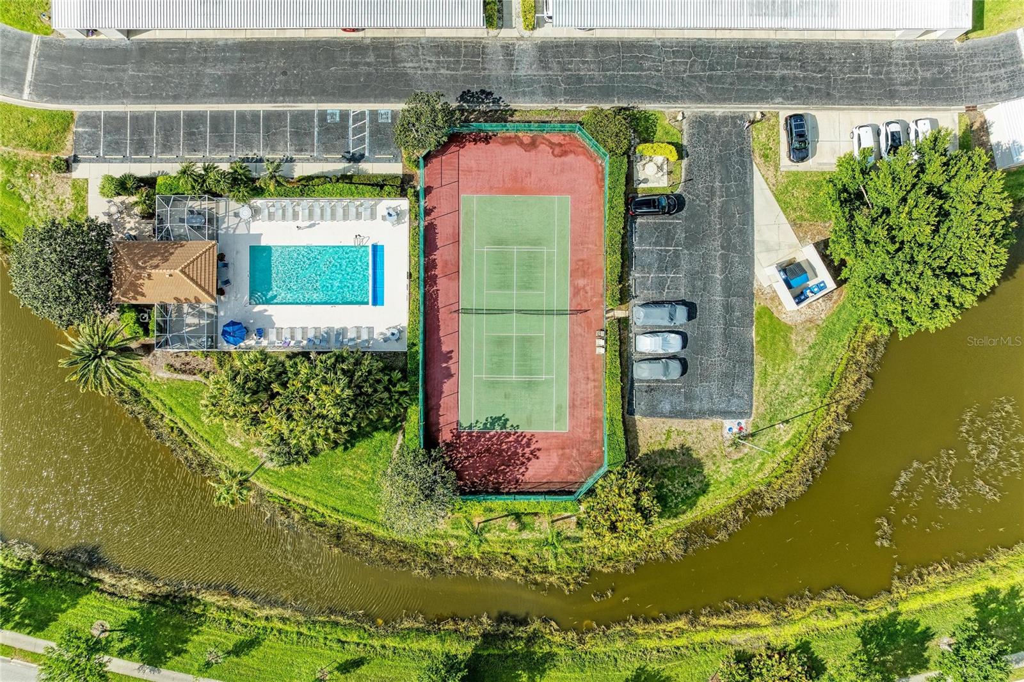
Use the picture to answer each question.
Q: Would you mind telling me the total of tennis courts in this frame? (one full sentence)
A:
In total, there is 1 tennis court in the scene.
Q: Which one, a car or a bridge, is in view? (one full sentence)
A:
It is a car that can be seen here.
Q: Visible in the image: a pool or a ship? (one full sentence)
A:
The one in the frame is a pool.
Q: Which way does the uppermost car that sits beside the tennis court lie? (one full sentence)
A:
The uppermost car that sits beside the tennis court has been laid out horizontally relative to the frame.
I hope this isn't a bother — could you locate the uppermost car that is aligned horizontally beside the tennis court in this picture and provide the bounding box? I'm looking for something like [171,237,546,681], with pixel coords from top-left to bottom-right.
[628,192,678,215]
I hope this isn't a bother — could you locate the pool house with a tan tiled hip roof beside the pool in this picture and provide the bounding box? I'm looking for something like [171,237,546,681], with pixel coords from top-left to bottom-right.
[111,239,224,305]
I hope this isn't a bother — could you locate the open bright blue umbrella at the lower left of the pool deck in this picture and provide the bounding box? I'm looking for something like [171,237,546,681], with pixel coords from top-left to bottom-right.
[223,321,248,346]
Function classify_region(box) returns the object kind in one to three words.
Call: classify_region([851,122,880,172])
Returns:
car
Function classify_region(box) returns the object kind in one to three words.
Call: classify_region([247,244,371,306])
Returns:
swimming pool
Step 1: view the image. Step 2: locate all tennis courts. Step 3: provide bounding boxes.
[424,132,605,497]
